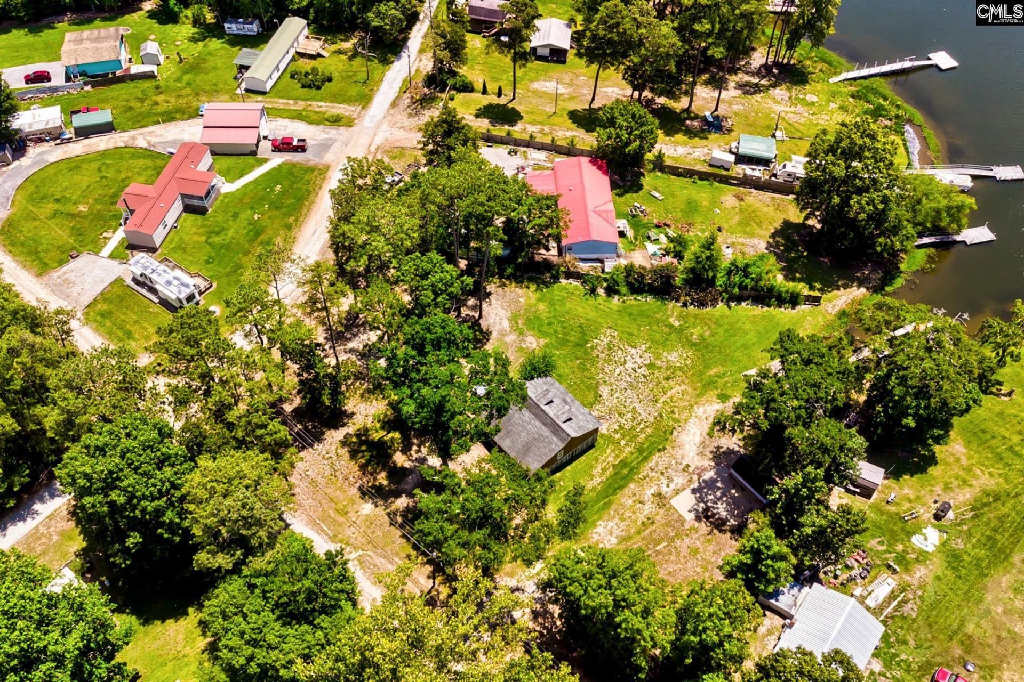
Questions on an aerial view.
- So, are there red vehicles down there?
Yes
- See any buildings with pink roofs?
Yes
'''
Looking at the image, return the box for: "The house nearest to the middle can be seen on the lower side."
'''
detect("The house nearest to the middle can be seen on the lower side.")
[490,375,603,476]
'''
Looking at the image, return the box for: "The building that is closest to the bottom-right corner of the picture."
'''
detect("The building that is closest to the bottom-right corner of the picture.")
[770,582,885,674]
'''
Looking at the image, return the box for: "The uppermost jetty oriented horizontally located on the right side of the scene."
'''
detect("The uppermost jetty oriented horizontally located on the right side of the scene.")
[827,49,960,83]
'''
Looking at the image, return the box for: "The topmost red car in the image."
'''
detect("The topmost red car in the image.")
[21,68,51,84]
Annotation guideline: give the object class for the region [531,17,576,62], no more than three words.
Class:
house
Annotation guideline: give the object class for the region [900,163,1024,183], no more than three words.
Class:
pier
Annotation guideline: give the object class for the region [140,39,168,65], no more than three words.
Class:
shed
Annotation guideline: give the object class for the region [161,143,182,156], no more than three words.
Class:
vehicle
